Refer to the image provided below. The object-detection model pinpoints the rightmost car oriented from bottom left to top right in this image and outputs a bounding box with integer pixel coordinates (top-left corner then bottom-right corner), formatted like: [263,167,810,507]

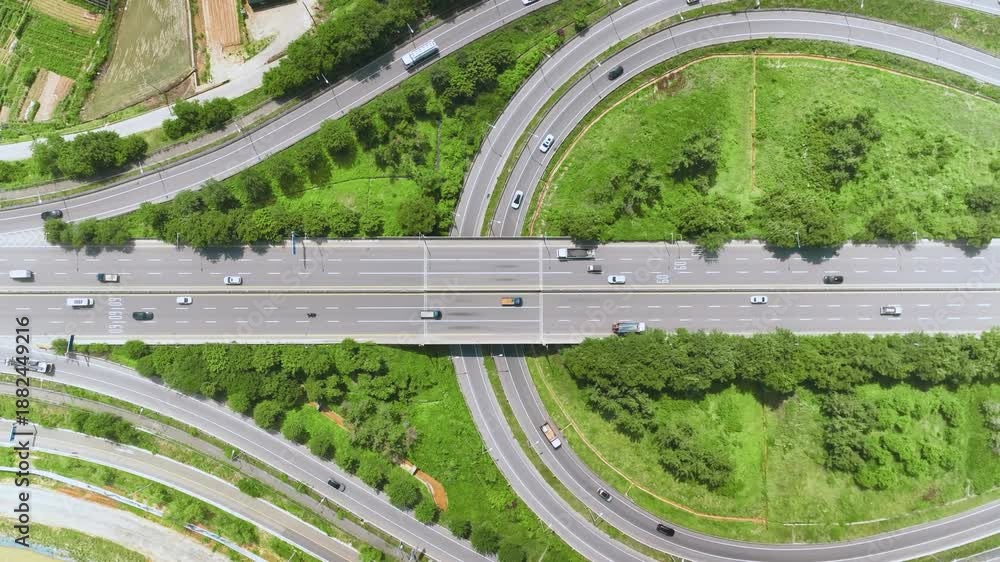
[607,65,624,79]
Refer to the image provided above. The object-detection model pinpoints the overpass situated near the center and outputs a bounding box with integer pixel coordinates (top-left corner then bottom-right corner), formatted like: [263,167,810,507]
[424,238,543,344]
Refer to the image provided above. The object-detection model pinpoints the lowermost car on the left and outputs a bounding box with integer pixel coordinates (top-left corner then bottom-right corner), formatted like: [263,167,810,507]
[327,479,344,492]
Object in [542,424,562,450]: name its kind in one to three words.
vehicle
